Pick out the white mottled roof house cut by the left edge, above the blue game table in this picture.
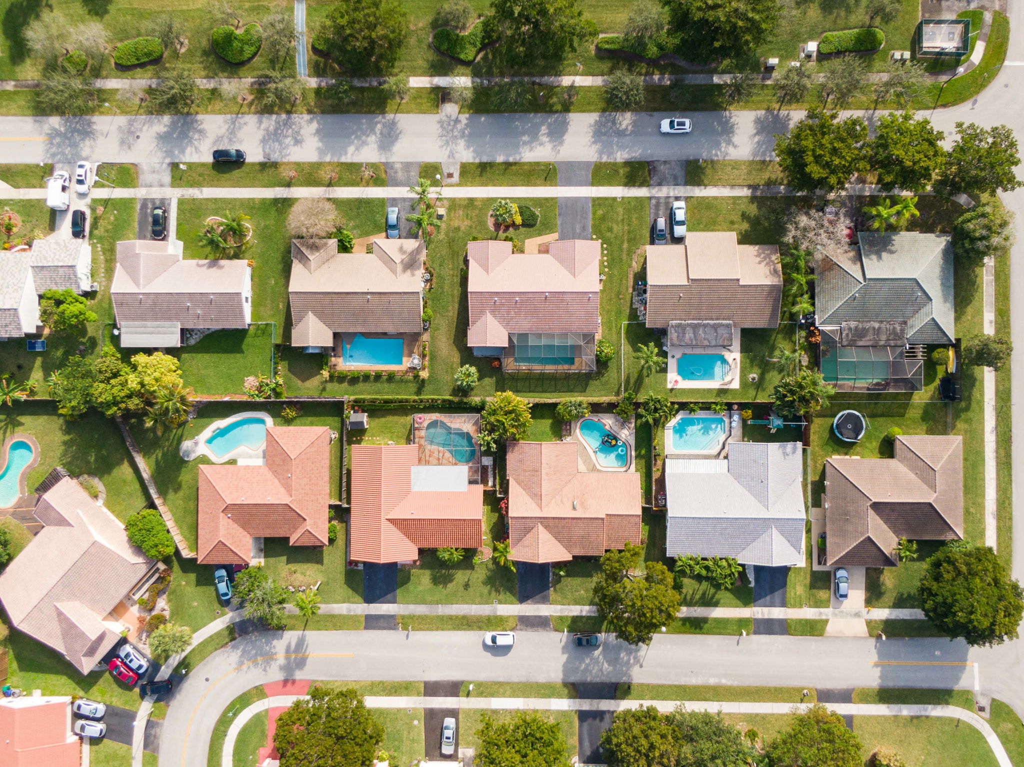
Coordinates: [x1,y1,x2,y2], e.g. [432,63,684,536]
[0,239,93,343]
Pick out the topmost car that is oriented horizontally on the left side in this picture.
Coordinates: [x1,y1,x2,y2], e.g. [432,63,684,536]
[212,147,246,163]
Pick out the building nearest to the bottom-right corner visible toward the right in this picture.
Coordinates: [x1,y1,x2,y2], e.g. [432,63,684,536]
[821,435,963,567]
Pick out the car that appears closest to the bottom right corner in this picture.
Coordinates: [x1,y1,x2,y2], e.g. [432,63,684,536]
[833,568,850,601]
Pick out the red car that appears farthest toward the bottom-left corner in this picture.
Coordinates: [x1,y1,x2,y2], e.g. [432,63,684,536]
[111,657,137,686]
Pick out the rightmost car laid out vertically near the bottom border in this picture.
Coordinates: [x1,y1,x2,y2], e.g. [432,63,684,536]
[440,717,456,754]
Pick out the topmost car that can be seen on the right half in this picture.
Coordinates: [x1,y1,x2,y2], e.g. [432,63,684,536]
[660,117,692,133]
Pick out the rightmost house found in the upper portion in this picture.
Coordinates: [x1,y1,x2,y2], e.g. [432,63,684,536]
[811,232,955,347]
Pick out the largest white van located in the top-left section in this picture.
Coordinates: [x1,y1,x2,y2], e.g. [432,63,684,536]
[43,171,71,212]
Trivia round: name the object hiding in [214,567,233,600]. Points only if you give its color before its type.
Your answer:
blue car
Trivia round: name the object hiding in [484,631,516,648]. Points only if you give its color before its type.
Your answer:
white car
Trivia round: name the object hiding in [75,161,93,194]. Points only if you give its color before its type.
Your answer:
white car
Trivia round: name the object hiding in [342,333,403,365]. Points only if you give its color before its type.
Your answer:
blue swimming pool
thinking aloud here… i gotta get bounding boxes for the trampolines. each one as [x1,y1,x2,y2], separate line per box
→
[833,410,870,442]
